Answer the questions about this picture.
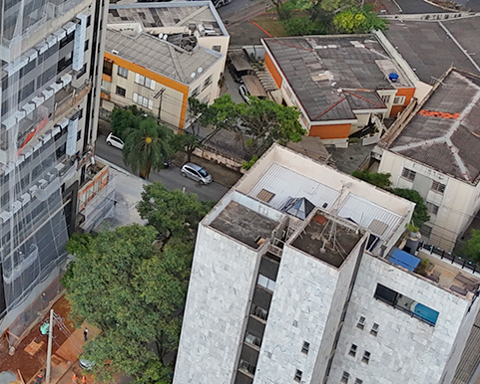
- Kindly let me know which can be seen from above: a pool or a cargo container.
pool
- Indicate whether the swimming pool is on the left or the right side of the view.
right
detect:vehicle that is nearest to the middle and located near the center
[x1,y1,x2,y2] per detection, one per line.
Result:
[180,163,214,187]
